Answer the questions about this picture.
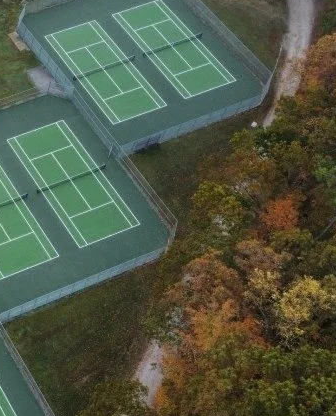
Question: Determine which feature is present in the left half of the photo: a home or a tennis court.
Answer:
tennis court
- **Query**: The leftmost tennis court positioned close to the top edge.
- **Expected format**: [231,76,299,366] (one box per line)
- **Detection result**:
[46,20,167,124]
